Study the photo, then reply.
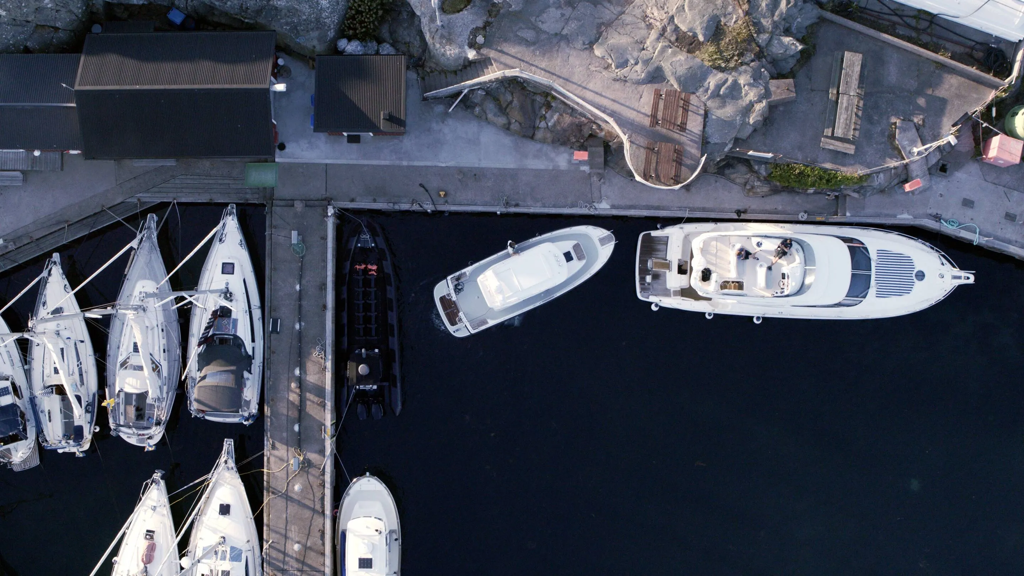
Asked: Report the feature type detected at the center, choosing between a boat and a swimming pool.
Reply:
boat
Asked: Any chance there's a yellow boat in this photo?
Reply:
No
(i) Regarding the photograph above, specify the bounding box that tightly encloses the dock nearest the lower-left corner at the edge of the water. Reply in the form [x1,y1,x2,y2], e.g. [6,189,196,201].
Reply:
[264,203,339,576]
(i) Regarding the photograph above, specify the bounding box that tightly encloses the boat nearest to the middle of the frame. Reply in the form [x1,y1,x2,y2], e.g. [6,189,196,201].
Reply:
[434,225,618,337]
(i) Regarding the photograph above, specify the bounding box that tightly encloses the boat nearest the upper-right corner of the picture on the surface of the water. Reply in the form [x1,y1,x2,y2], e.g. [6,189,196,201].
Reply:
[635,222,976,320]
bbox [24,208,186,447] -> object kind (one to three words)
boat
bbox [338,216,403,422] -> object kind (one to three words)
boat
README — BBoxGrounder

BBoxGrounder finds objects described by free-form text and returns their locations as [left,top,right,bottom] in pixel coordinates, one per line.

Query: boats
[635,222,976,320]
[91,470,183,576]
[335,471,402,576]
[24,208,186,447]
[0,252,103,454]
[338,216,403,422]
[138,204,265,421]
[156,439,264,576]
[0,288,42,471]
[434,225,618,337]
